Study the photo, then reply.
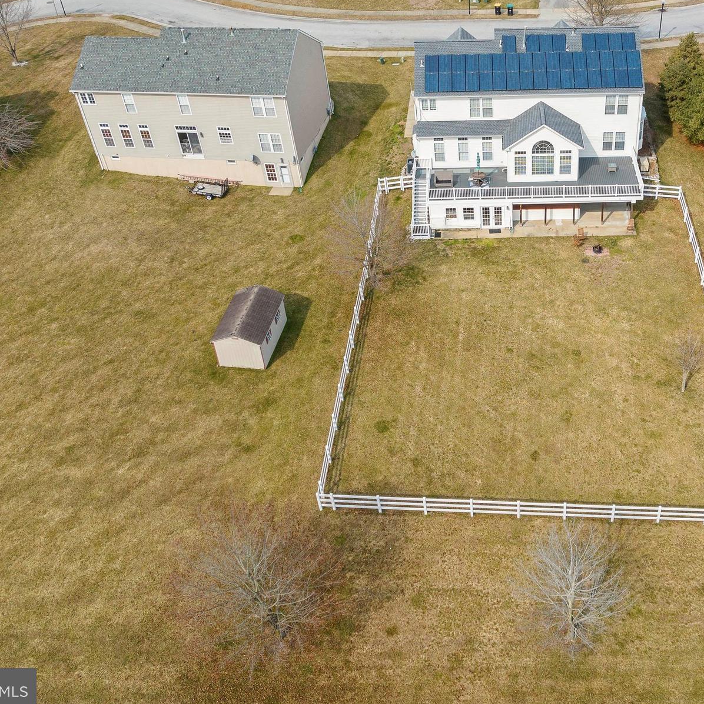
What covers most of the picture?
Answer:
grass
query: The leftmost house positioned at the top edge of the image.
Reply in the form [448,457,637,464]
[73,25,343,184]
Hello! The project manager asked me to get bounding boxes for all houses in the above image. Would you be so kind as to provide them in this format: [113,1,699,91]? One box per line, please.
[73,25,343,184]
[411,19,645,230]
